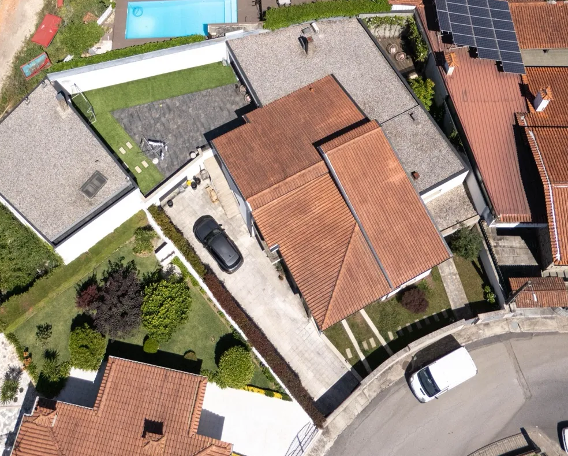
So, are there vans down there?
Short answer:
Yes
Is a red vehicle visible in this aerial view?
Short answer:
No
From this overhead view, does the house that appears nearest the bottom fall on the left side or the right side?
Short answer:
left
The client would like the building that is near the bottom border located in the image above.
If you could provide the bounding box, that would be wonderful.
[12,355,232,456]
